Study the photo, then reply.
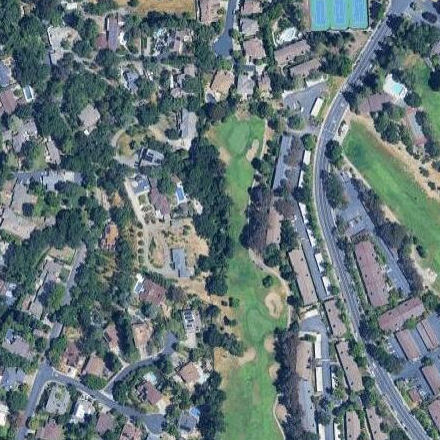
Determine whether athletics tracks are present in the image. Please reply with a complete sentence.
No, the picture doesn't show any athletics track.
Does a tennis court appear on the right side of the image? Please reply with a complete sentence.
Yes, a tennis court appears on the right side of the image.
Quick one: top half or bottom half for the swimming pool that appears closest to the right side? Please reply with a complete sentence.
It is in the top half that the swimming pool that appears closest to the right side appears.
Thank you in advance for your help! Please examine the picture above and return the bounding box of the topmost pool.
[277,27,297,41]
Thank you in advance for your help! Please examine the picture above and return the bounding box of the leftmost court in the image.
[310,0,329,31]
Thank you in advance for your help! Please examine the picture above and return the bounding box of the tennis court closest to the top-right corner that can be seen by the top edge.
[348,0,368,28]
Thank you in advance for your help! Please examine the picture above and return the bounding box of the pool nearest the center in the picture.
[175,180,187,204]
